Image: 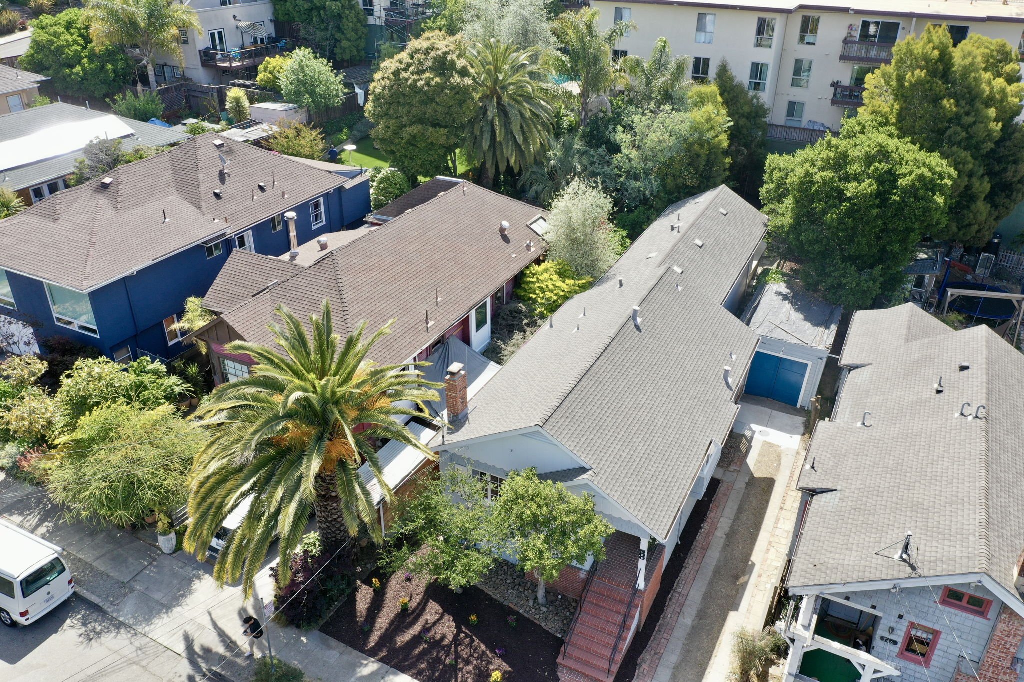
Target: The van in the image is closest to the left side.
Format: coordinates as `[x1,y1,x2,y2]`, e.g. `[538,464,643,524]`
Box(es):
[0,531,72,637]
